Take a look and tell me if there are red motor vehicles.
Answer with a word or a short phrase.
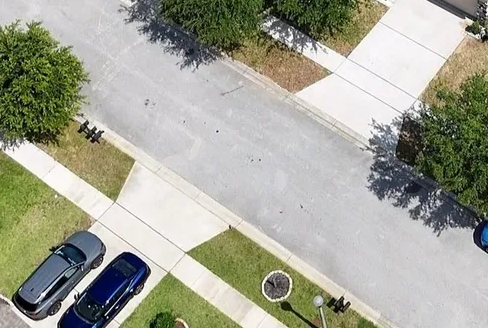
No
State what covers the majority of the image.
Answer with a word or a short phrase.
paved ground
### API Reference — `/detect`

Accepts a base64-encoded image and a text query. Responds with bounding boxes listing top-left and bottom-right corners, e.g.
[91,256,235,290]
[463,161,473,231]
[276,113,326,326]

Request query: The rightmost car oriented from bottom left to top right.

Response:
[59,249,152,328]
